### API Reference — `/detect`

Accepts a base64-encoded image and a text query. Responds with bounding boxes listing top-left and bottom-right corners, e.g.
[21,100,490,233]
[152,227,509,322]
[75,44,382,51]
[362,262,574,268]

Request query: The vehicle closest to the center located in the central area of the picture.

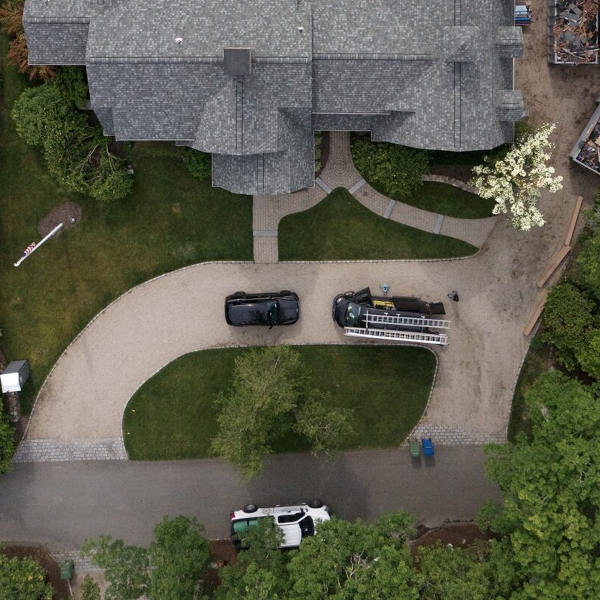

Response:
[226,290,300,328]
